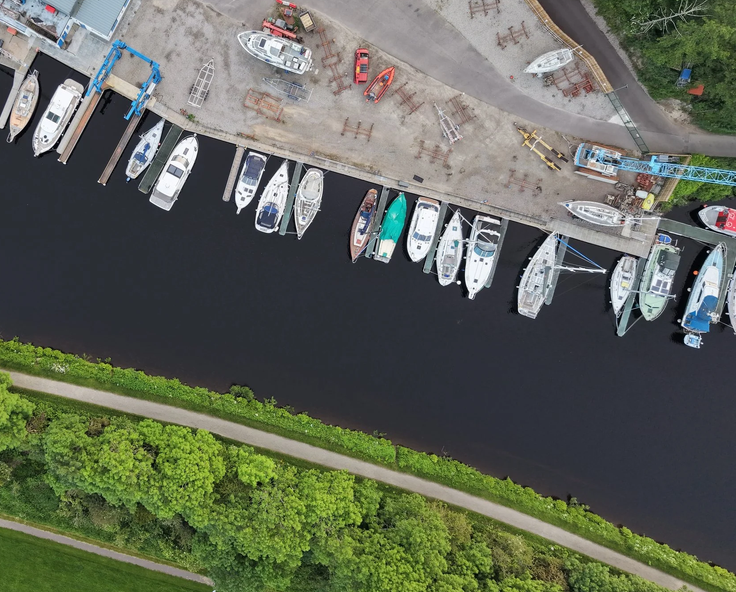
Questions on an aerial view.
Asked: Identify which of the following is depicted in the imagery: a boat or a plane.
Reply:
boat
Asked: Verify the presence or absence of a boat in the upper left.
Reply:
Yes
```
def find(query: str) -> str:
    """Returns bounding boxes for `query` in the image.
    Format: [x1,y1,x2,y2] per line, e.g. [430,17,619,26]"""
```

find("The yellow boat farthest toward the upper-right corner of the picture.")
[642,194,655,210]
